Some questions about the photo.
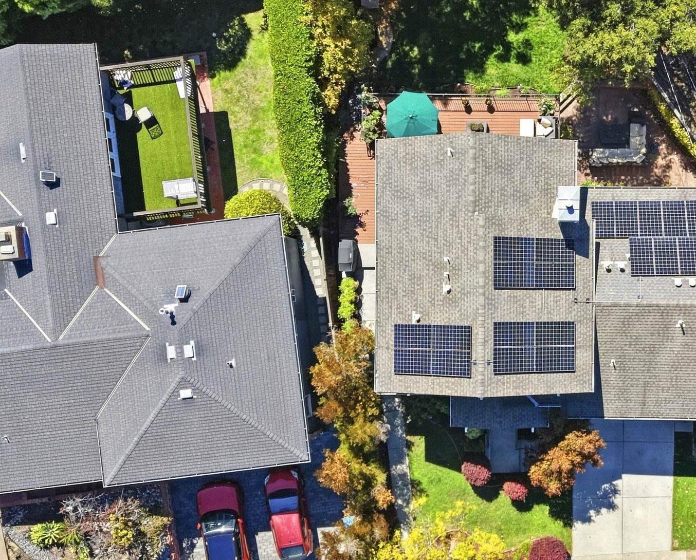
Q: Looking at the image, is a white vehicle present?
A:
No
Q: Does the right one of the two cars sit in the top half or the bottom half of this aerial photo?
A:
bottom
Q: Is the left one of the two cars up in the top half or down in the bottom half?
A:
bottom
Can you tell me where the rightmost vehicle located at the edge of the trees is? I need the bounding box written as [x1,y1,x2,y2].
[263,469,315,560]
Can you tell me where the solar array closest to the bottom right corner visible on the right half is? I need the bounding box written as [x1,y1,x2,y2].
[494,322,575,375]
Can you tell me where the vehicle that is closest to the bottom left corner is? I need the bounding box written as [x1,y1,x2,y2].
[197,483,255,560]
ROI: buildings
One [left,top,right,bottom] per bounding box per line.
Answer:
[0,42,322,496]
[374,133,696,433]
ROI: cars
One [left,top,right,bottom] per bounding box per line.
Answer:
[263,469,315,560]
[197,483,255,560]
